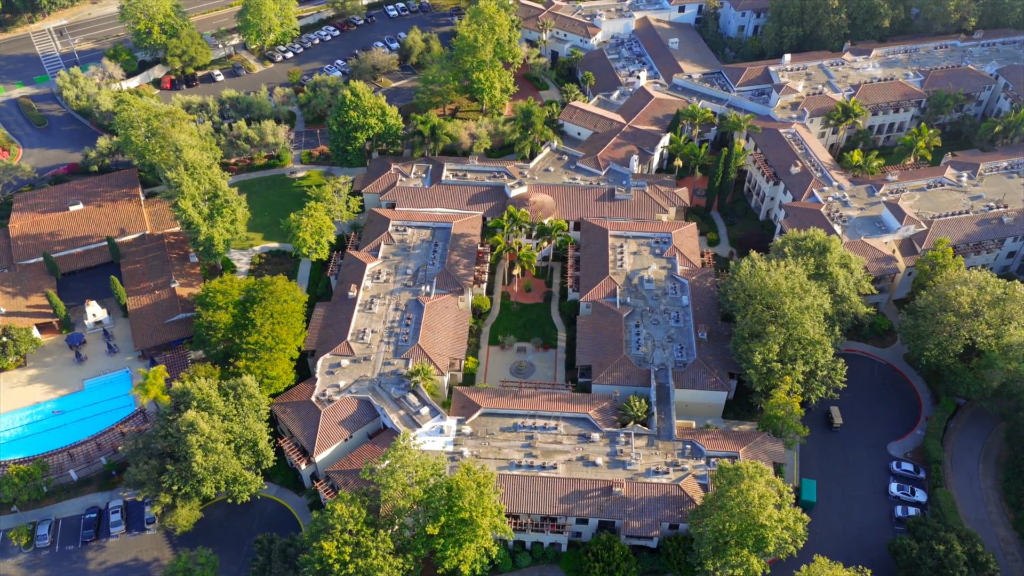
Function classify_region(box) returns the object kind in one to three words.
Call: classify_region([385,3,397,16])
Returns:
vehicle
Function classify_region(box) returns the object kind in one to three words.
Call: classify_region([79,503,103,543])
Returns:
car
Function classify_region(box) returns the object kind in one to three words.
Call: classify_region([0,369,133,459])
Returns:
swimming pool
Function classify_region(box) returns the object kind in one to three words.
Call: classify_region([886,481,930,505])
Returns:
car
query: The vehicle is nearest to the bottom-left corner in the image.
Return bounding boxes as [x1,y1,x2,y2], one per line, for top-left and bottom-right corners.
[32,511,57,552]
